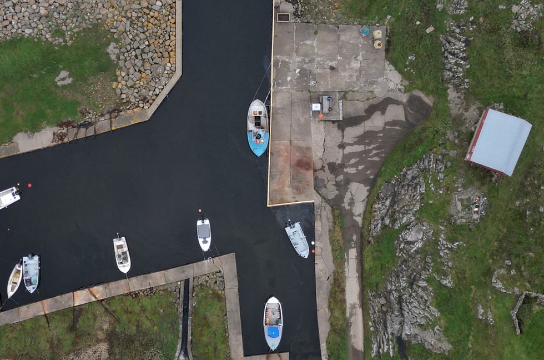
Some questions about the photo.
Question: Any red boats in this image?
No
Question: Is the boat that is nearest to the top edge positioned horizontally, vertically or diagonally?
vertically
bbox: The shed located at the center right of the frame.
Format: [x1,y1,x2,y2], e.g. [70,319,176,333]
[463,107,532,178]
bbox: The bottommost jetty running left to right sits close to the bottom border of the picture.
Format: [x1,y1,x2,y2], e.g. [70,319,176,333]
[0,252,289,360]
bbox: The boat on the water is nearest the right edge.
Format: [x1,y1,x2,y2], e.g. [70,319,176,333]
[286,217,309,258]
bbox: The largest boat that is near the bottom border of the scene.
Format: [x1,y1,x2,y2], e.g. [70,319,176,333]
[263,296,283,351]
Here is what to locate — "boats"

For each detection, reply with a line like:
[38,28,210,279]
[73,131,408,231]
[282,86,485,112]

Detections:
[113,229,131,273]
[247,100,269,157]
[263,296,283,351]
[0,187,26,208]
[286,217,309,258]
[23,254,40,294]
[197,211,211,252]
[8,258,23,298]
